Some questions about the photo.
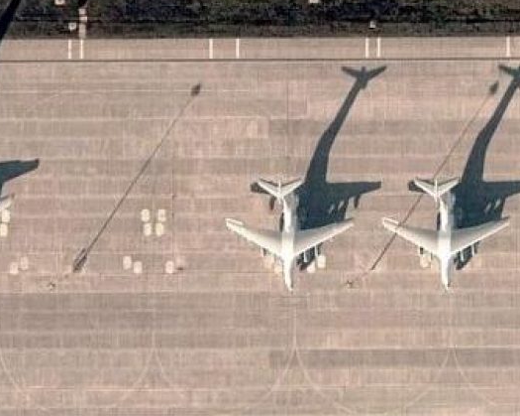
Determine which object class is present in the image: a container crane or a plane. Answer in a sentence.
This aerial view contains a plane.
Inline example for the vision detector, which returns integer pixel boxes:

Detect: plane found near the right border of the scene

[382,177,510,289]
